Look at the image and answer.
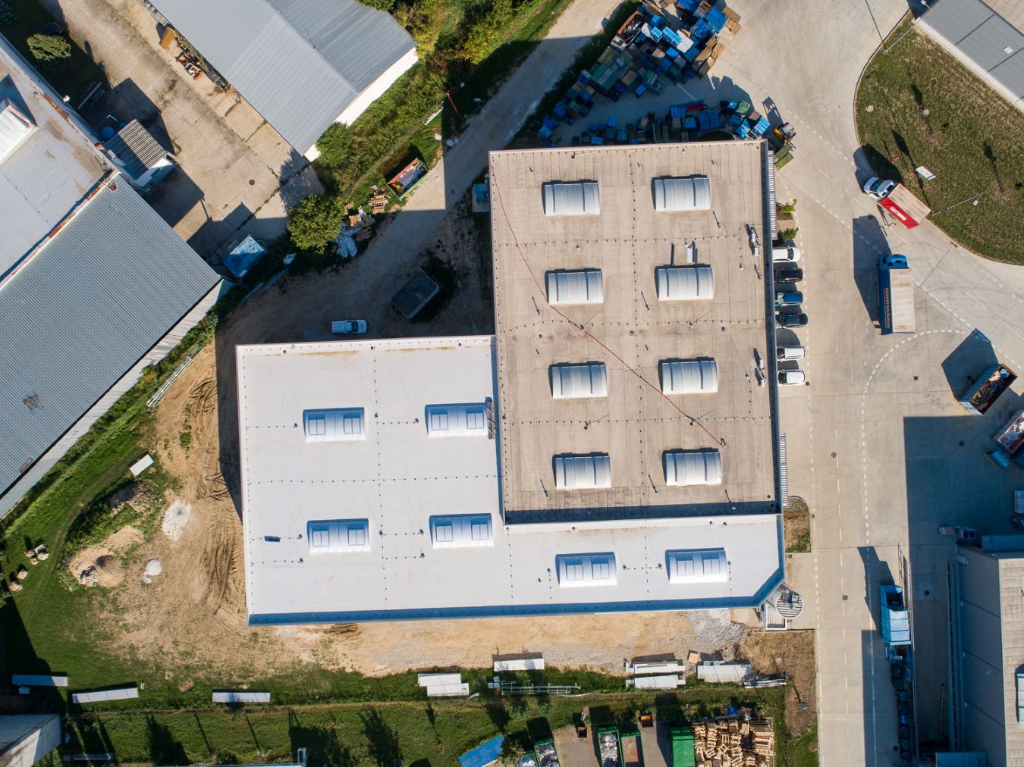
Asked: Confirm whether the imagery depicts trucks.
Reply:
Yes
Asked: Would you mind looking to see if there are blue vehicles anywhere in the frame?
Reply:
Yes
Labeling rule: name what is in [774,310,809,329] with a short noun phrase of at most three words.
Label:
car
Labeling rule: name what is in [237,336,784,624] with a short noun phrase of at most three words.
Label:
building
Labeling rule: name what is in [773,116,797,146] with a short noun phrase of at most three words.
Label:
work vehicle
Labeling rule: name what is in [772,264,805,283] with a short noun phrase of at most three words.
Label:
car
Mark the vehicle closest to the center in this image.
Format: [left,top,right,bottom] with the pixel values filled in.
[328,317,367,335]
